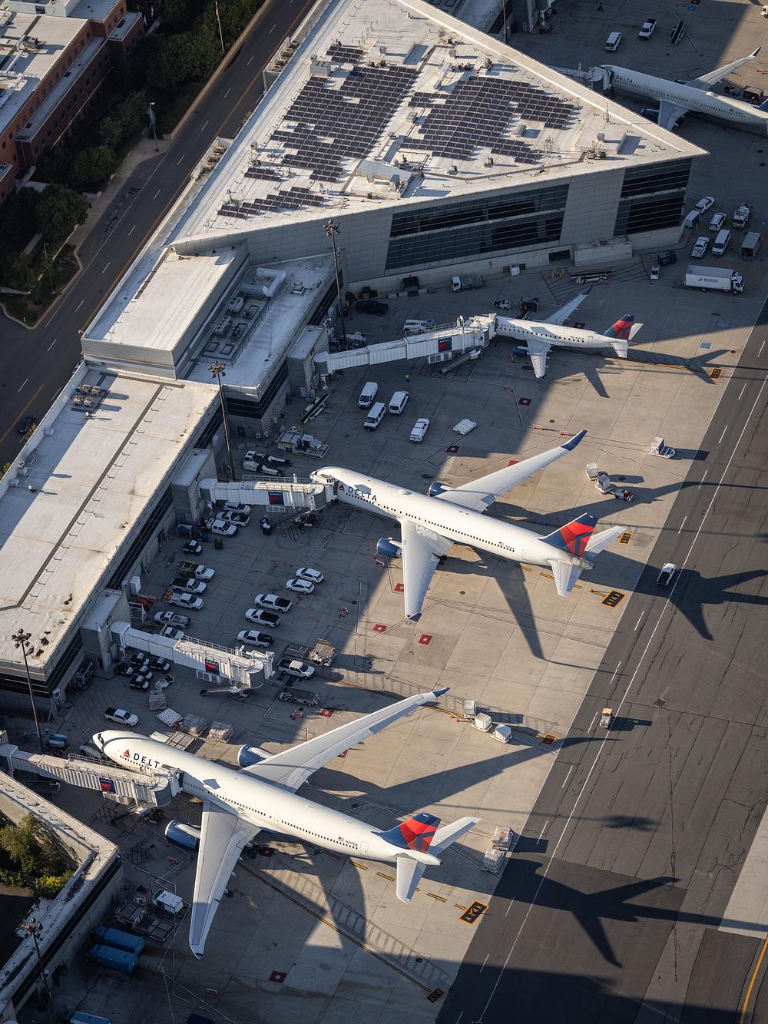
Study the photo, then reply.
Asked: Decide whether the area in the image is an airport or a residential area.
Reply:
airport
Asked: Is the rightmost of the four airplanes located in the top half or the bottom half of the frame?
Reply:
top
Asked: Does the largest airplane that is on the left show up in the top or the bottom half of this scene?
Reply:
bottom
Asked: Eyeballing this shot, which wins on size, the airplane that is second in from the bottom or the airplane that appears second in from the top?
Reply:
the airplane that is second in from the bottom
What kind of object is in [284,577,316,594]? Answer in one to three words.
car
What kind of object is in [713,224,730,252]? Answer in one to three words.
vehicle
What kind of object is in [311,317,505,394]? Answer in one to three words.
jet bridge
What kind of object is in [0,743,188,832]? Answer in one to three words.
jet bridge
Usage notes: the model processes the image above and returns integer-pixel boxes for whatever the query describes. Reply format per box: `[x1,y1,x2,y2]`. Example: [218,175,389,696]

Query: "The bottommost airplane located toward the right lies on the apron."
[310,430,626,616]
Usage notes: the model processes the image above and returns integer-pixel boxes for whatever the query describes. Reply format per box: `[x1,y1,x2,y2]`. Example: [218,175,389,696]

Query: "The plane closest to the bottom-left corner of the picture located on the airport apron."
[91,681,478,953]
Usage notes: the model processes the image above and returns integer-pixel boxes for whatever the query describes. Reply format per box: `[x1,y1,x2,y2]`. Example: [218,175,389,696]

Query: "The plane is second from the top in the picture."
[470,281,644,378]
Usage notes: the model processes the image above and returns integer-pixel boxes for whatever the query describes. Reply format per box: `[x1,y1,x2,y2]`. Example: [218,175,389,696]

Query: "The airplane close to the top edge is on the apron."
[596,42,768,133]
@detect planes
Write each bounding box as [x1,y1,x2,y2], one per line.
[310,430,626,616]
[470,281,644,378]
[91,681,478,953]
[596,42,768,133]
